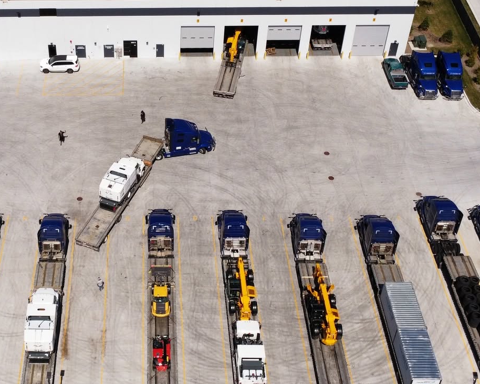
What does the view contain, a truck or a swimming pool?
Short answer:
truck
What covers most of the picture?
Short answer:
paved ground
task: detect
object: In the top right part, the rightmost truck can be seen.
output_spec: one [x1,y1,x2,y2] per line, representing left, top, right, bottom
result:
[430,46,465,97]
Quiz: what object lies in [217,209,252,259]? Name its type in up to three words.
truck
